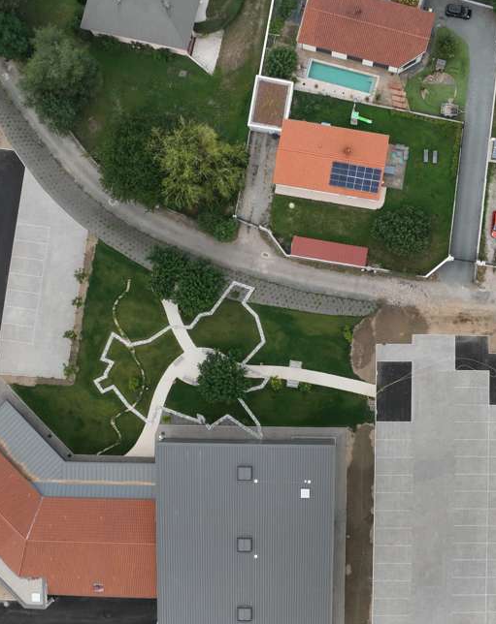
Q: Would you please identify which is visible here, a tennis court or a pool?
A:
pool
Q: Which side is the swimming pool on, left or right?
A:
right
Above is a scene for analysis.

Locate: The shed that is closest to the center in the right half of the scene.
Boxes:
[291,236,368,267]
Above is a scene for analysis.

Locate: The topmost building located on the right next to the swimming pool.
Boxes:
[298,0,435,73]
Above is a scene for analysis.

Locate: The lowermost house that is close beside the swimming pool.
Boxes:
[273,120,389,210]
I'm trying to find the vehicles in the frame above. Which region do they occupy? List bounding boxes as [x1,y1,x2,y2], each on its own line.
[490,211,496,238]
[444,1,471,21]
